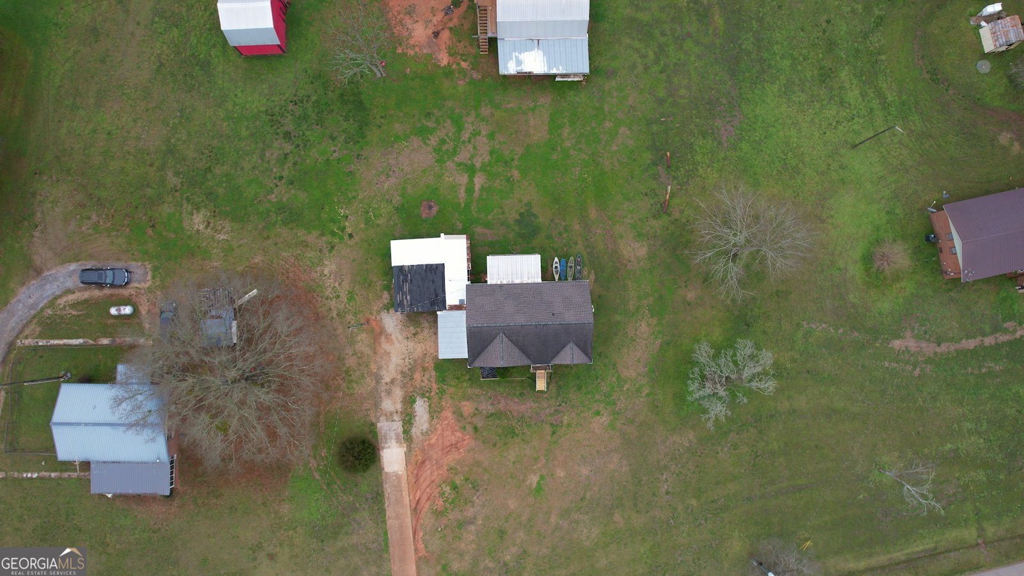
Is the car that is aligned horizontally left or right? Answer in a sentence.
It is on the left.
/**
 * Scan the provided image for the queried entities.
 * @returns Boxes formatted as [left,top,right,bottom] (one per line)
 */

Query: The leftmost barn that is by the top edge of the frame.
[215,0,291,53]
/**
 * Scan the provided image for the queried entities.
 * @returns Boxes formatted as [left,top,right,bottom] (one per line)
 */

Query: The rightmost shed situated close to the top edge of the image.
[980,15,1024,53]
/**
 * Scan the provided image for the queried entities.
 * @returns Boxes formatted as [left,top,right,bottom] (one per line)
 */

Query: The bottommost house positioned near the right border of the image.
[942,190,1024,282]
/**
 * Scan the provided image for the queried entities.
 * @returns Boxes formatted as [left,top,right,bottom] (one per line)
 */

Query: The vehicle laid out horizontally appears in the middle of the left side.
[78,266,133,288]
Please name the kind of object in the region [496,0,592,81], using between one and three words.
house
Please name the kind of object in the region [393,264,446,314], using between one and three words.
shed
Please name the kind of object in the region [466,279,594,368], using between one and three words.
house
